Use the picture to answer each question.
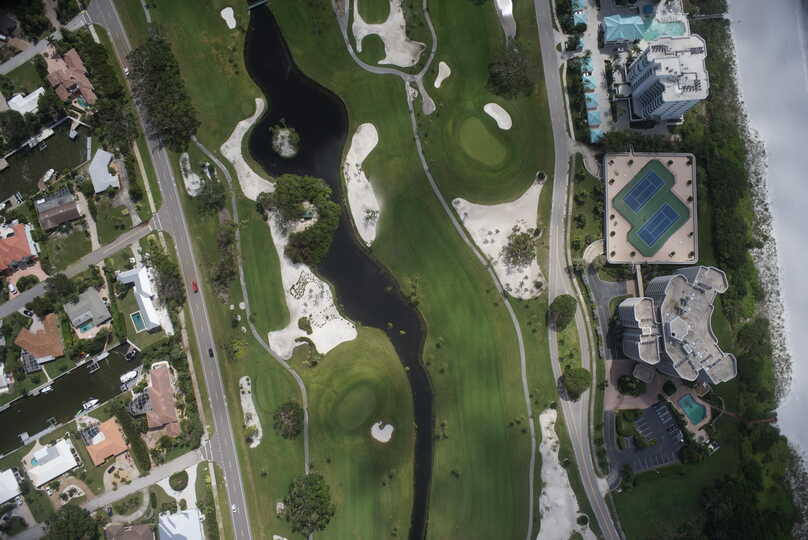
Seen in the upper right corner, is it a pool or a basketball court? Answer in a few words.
pool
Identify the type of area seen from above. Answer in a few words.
golf course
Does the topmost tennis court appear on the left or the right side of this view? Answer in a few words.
right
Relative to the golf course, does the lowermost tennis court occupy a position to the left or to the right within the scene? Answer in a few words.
on the right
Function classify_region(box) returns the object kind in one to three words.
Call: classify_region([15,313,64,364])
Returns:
house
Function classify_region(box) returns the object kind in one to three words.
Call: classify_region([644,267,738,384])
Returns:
building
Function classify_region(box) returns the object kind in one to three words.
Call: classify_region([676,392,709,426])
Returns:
swimming pool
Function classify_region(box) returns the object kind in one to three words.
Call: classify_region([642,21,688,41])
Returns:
swimming pool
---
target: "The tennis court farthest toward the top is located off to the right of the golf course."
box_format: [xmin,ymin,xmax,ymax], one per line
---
[623,170,664,212]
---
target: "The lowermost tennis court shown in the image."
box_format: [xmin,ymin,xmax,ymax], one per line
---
[638,204,678,246]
